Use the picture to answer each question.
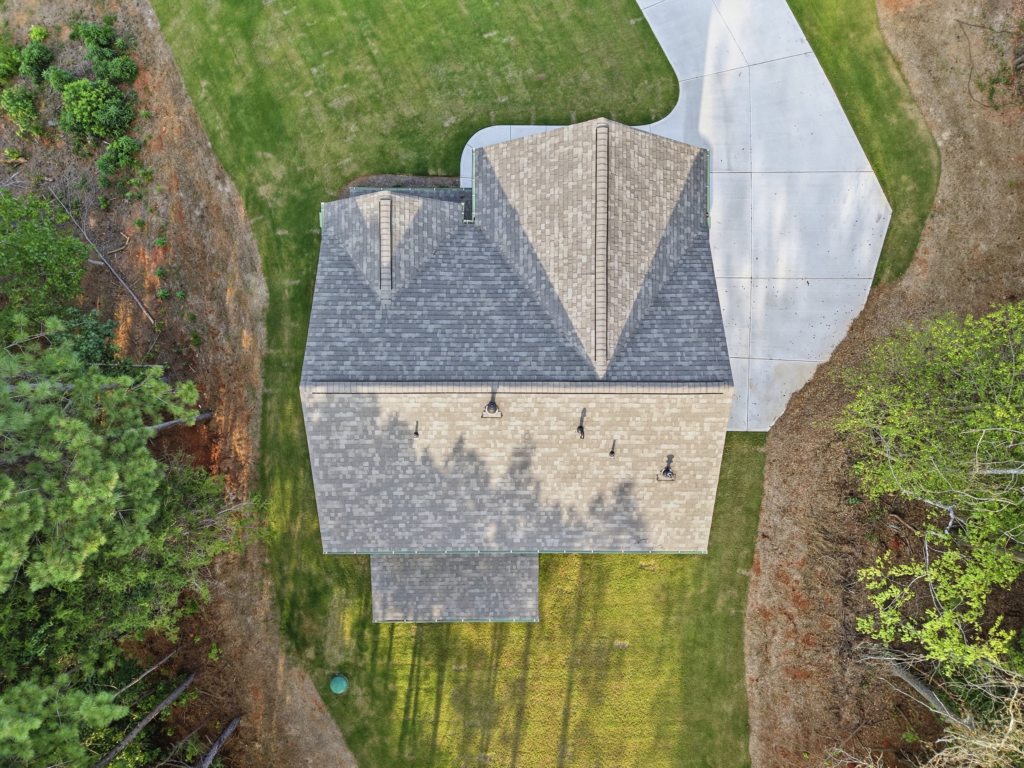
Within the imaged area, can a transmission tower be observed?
No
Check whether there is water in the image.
No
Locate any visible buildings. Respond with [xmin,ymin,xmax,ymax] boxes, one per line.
[298,119,734,625]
